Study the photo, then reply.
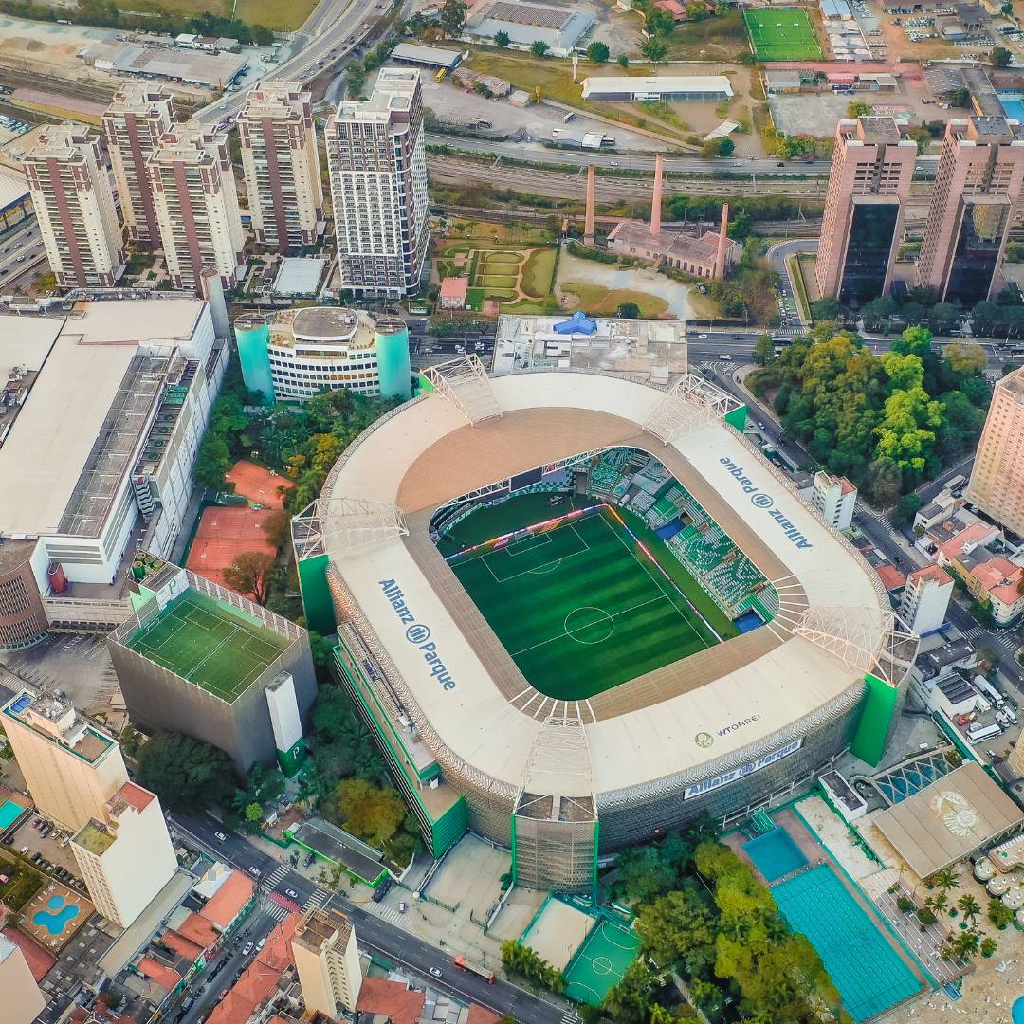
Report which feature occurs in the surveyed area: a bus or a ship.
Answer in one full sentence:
It is a bus that can be seen here.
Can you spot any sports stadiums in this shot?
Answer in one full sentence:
Yes, a sports stadium is visible in the scene.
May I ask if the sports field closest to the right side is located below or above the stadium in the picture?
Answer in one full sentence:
The sports field closest to the right side is located above the stadium in this view.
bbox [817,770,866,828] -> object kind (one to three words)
building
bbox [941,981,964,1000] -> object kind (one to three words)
swimming pool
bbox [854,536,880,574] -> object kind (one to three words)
house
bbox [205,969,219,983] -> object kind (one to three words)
car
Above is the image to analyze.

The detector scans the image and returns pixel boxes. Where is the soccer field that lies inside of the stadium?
[443,496,739,699]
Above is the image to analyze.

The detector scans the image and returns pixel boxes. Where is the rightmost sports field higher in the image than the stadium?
[744,7,823,61]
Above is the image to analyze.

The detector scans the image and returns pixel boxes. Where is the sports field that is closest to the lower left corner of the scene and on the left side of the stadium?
[118,589,294,704]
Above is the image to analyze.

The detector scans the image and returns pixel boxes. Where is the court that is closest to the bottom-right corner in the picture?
[565,918,641,1005]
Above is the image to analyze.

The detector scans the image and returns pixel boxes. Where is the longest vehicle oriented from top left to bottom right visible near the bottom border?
[448,945,501,985]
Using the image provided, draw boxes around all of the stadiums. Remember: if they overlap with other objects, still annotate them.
[289,353,919,892]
